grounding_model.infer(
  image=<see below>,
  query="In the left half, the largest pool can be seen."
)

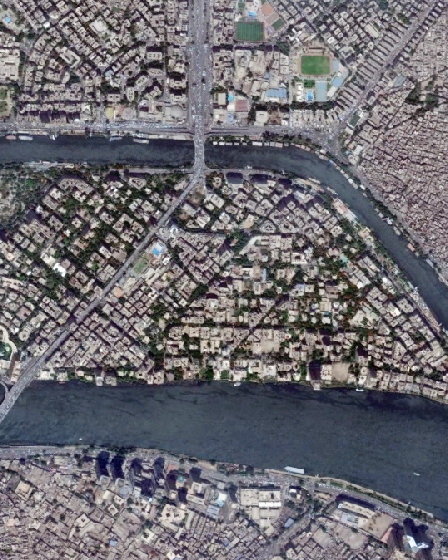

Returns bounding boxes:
[147,242,166,257]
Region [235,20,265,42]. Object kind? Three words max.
soccer field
